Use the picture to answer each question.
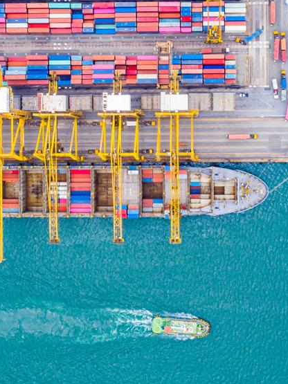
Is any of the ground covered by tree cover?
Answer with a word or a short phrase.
No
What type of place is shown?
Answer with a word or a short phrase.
port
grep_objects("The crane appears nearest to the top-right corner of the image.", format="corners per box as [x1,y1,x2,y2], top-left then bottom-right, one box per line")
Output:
[206,0,228,45]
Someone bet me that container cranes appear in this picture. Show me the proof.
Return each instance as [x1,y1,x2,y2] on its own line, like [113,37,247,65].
[153,42,176,91]
[97,75,145,244]
[149,75,197,244]
[0,64,32,262]
[33,75,86,244]
[206,0,228,45]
